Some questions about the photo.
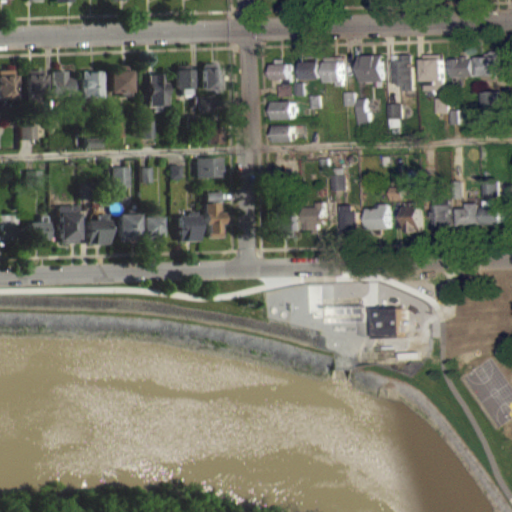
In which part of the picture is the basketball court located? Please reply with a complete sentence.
Look in the bottom right portion of the view to spot the basketball court.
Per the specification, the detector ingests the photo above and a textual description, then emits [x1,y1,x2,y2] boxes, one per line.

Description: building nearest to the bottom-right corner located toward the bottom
[370,306,402,338]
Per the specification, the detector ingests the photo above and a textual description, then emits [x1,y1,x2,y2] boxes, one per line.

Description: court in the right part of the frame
[458,356,512,432]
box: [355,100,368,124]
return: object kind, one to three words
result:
building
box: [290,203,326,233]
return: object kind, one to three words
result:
house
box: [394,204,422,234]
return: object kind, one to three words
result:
house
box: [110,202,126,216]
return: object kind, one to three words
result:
swimming pool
